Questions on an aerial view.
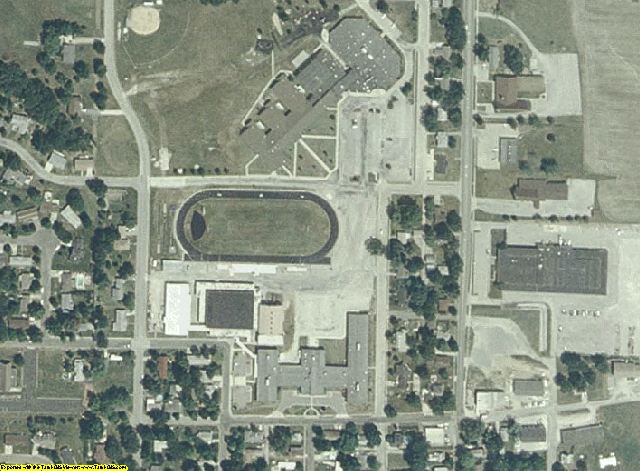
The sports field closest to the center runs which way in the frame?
from left to right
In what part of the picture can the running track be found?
center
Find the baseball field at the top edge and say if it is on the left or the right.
left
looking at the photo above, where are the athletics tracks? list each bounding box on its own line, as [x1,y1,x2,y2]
[176,190,339,264]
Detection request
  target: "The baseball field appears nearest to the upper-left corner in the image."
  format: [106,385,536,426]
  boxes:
[123,0,189,67]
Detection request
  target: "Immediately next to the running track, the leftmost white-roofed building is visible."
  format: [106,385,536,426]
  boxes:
[165,283,190,335]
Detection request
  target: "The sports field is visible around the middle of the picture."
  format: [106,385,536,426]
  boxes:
[186,200,329,254]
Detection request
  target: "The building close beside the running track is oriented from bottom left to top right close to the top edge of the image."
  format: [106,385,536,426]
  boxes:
[236,18,401,168]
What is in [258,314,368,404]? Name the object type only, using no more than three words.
building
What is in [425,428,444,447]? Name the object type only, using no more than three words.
building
